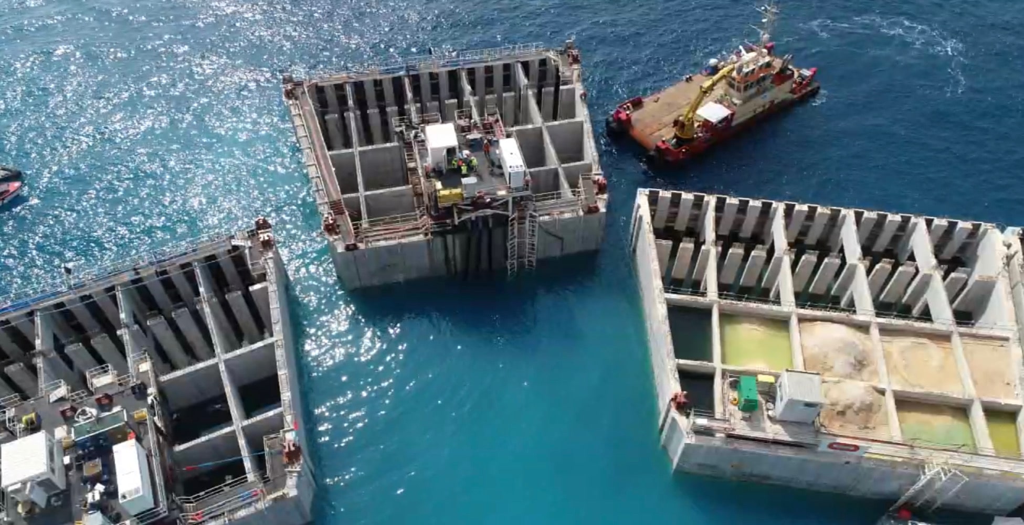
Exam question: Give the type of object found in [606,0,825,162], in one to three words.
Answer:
boat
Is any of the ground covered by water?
Yes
